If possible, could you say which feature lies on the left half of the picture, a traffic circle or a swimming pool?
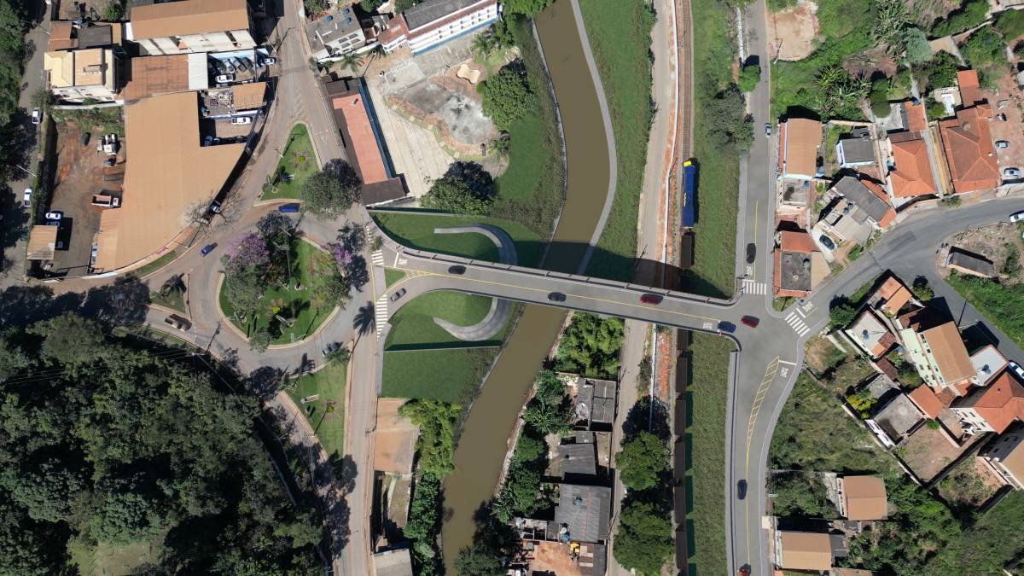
traffic circle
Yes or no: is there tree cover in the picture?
Yes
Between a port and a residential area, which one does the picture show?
residential area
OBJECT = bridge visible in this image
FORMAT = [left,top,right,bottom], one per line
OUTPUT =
[363,218,745,350]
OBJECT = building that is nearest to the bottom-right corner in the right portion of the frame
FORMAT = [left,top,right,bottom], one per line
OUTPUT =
[980,432,1024,498]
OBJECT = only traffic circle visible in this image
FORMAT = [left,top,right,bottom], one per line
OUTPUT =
[192,219,372,364]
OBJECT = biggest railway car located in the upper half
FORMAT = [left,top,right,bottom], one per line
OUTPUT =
[680,160,696,226]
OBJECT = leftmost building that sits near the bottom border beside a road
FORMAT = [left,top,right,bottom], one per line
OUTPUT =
[374,543,414,576]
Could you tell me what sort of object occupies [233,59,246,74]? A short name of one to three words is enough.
vehicle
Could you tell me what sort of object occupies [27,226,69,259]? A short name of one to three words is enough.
shed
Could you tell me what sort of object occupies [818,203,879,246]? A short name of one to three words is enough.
house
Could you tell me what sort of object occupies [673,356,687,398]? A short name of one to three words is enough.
rail car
